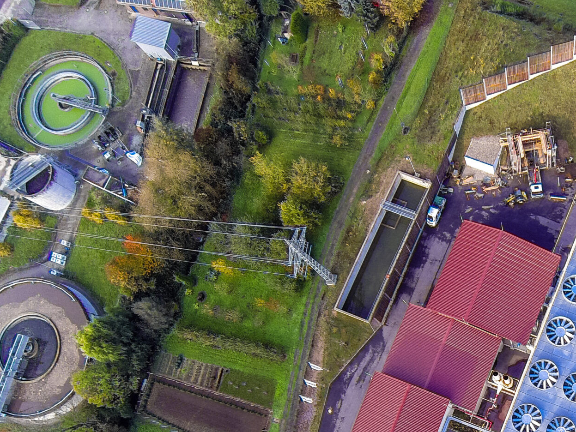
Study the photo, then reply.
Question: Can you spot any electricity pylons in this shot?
Yes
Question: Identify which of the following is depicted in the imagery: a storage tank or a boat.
storage tank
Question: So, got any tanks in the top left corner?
Yes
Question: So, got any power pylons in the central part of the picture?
Yes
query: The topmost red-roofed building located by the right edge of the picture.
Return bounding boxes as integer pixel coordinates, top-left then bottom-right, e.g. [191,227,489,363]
[425,216,561,348]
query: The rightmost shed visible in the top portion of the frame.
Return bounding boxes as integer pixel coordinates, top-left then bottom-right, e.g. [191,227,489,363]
[464,140,501,172]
